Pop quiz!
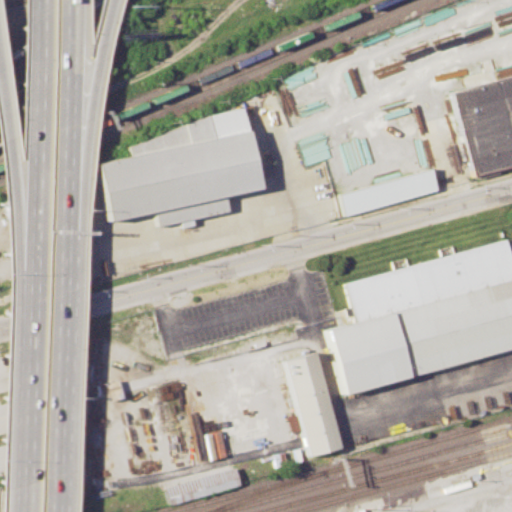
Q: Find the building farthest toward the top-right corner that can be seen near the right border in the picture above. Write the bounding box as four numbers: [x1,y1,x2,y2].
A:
[452,78,512,176]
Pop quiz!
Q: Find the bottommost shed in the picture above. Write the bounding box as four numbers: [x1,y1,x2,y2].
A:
[164,470,242,505]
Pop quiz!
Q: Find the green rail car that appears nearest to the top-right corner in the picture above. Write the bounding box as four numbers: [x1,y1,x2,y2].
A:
[321,12,362,31]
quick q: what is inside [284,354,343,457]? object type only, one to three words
shed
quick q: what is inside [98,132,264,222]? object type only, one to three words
building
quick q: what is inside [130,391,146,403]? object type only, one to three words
vehicle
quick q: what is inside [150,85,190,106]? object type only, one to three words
rail car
